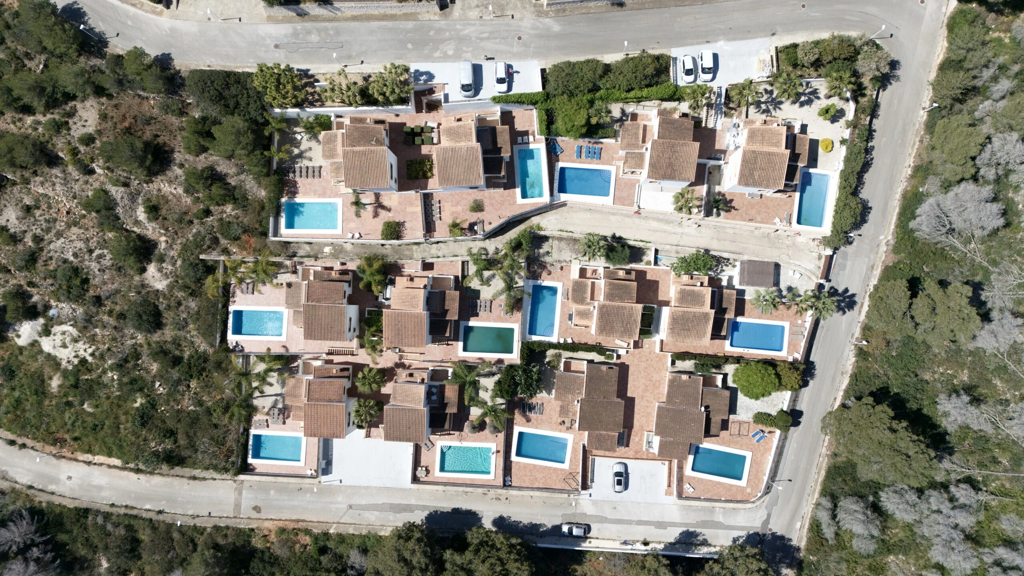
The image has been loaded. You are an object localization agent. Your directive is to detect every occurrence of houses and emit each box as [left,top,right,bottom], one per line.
[657,273,736,346]
[570,266,644,340]
[384,365,458,444]
[284,358,357,439]
[435,112,511,193]
[723,117,809,195]
[554,356,625,452]
[382,276,459,348]
[650,372,730,460]
[618,107,700,188]
[285,267,358,341]
[321,114,396,194]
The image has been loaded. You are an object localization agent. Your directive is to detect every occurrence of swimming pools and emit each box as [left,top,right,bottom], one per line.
[458,321,519,358]
[513,144,548,204]
[248,430,306,466]
[435,441,496,480]
[725,318,790,356]
[522,280,563,342]
[227,306,288,341]
[686,443,753,487]
[792,168,837,231]
[511,426,574,469]
[553,162,616,204]
[281,198,342,234]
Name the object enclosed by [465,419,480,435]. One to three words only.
umbrella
